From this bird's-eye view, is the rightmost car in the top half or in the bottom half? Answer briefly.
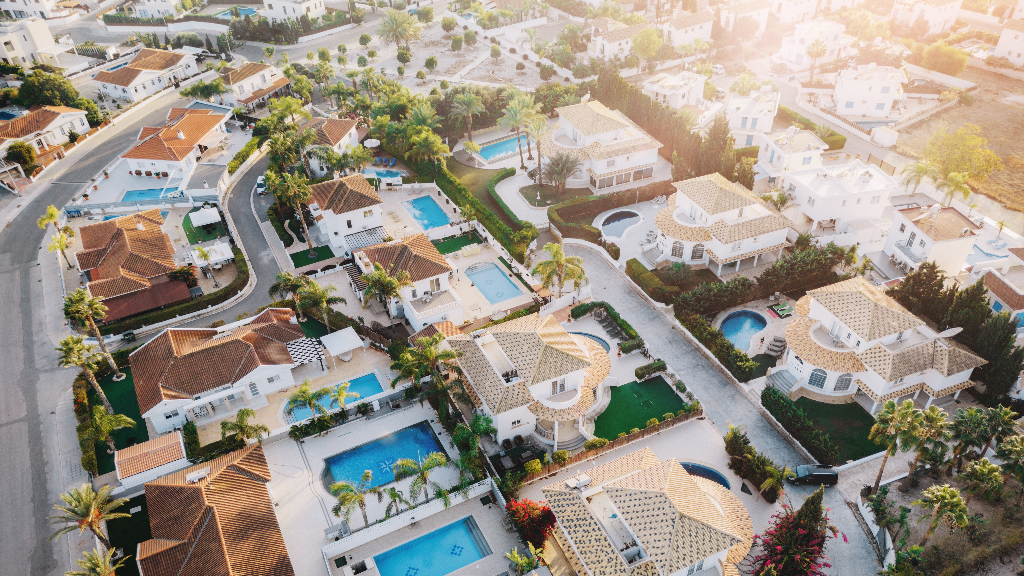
bottom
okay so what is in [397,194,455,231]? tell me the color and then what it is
blue swimming pool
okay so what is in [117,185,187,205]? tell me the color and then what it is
blue swimming pool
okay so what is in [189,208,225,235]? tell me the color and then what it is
white gazebo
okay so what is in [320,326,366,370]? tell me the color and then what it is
white gazebo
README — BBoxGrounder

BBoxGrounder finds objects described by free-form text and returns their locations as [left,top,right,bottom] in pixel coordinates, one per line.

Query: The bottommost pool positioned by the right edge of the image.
[966,244,1009,264]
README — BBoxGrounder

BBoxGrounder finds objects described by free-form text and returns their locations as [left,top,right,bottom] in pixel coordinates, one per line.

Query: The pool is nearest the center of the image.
[462,260,527,306]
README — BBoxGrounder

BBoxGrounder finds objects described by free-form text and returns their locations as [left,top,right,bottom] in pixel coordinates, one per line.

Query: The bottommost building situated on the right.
[536,444,756,576]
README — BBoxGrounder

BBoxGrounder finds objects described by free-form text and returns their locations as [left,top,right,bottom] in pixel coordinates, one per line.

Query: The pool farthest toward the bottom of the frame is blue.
[371,509,496,576]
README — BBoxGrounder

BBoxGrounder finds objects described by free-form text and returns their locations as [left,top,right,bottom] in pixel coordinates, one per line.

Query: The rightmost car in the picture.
[787,461,844,488]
